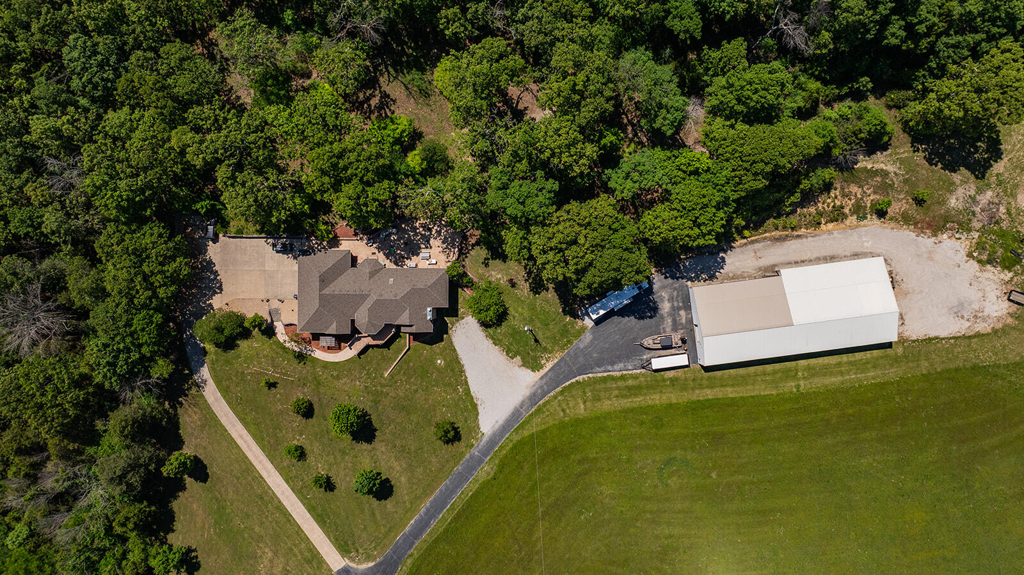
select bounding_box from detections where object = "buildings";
[688,256,901,368]
[297,249,450,335]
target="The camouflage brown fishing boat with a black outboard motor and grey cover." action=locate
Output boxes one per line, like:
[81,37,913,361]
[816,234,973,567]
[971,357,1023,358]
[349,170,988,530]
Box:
[640,333,687,349]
